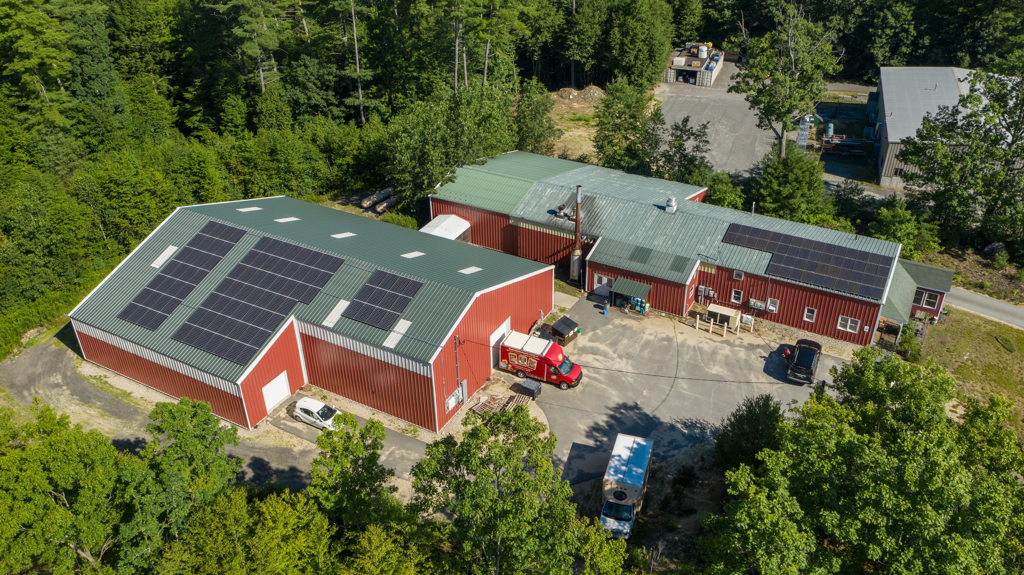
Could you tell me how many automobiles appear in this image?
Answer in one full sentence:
My tally gives 2 automobiles in this view.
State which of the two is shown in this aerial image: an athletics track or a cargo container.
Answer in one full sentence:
It is a cargo container that can be seen here.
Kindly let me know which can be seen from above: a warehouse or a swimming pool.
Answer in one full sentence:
I can see a warehouse in this picture.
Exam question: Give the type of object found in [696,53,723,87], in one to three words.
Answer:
shipping container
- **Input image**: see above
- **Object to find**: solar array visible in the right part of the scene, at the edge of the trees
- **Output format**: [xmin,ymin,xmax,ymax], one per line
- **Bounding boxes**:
[723,222,894,299]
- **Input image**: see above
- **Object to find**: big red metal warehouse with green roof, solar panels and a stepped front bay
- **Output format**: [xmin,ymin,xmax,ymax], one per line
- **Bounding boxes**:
[66,195,556,435]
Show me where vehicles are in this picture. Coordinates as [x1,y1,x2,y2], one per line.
[789,342,822,384]
[598,435,653,545]
[500,331,583,389]
[292,398,341,428]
